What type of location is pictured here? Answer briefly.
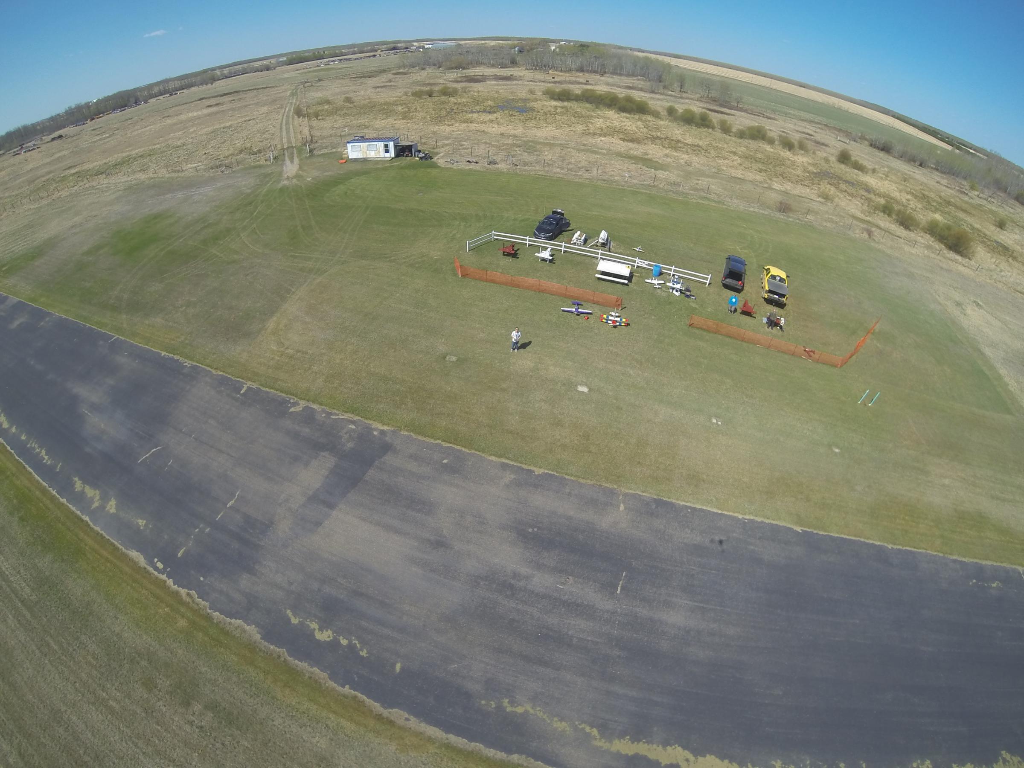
airport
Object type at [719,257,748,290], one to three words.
vehicle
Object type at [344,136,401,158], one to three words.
shed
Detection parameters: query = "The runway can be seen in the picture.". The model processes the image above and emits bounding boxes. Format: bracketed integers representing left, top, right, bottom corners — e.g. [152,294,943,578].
[0,294,1024,768]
